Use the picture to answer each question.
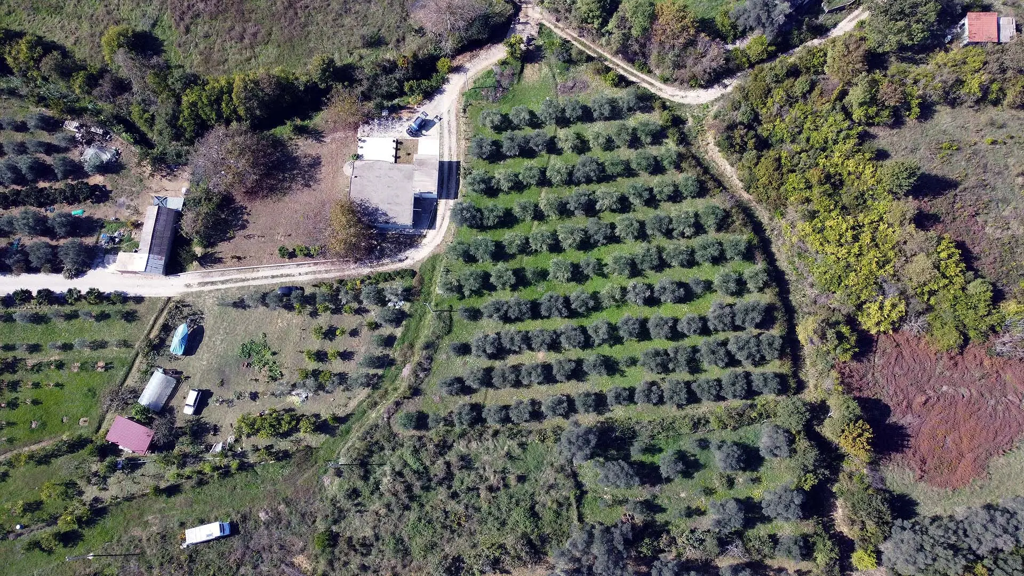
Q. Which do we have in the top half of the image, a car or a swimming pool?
car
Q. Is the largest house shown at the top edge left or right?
right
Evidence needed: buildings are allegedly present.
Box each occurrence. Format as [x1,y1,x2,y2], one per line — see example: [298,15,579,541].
[106,415,160,455]
[138,368,184,412]
[116,206,180,278]
[952,12,998,50]
[342,155,440,230]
